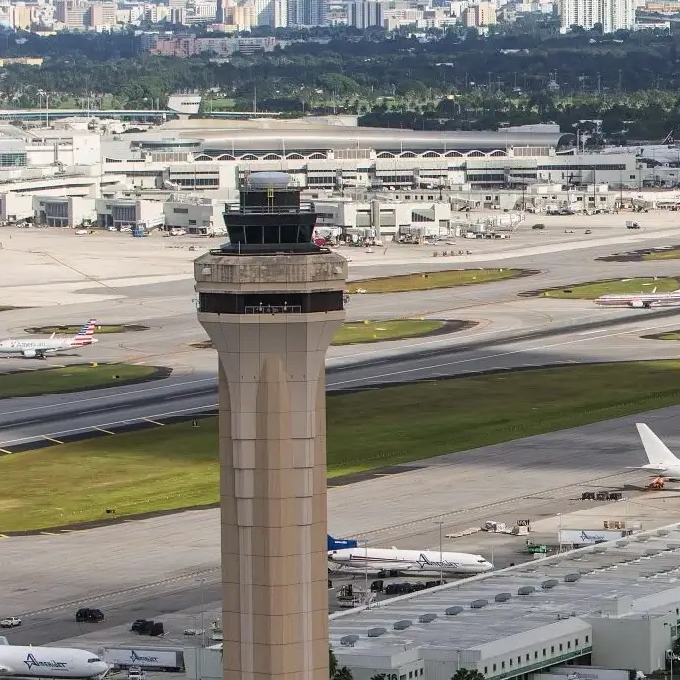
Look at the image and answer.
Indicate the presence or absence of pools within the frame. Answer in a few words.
No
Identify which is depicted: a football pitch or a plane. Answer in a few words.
plane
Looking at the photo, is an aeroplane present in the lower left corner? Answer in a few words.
Yes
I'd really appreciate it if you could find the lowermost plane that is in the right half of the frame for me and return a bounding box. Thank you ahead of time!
[330,536,499,580]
